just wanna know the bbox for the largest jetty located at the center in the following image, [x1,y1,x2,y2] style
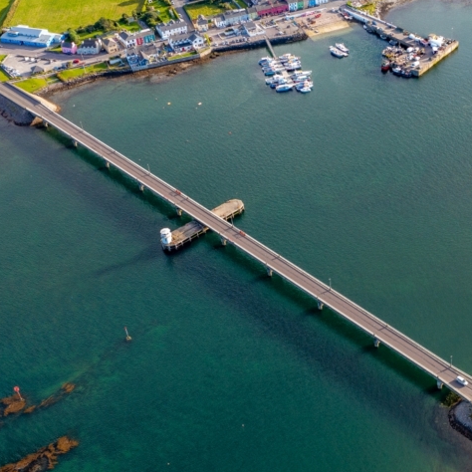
[155,199,247,253]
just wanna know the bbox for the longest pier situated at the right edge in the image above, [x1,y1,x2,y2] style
[340,4,460,78]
